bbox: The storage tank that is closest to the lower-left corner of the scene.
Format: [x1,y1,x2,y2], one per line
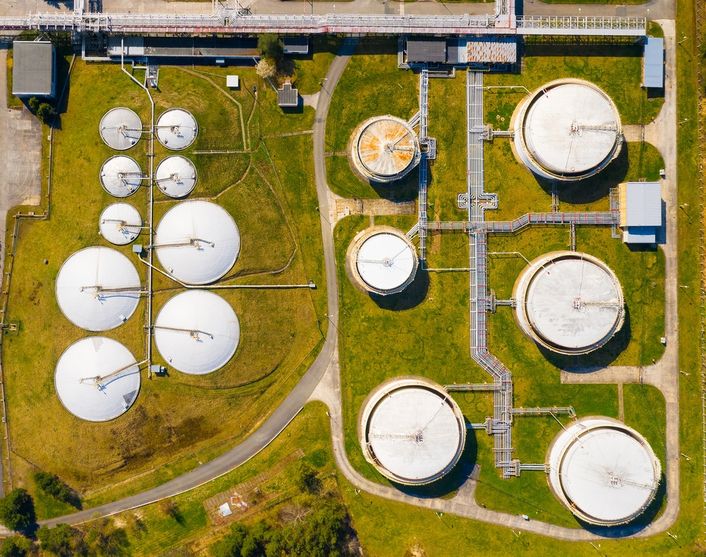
[55,336,141,422]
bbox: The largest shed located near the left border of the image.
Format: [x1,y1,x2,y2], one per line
[12,41,60,100]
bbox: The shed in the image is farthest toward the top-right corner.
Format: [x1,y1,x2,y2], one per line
[641,38,663,90]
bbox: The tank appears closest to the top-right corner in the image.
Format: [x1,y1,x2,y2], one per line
[511,77,627,185]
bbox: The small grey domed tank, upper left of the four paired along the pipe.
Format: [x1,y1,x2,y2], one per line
[99,108,143,151]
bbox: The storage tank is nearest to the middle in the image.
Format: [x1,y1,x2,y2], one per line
[346,225,422,298]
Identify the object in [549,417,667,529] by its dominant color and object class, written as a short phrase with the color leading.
white storage tank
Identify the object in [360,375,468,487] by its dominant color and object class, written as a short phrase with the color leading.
white storage tank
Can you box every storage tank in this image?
[99,203,143,245]
[347,114,423,190]
[57,247,141,332]
[511,77,627,185]
[154,199,241,285]
[514,252,627,355]
[156,108,199,151]
[99,108,143,151]
[154,290,240,375]
[55,336,141,422]
[346,225,422,298]
[155,155,198,198]
[100,155,143,198]
[549,417,667,529]
[360,375,468,487]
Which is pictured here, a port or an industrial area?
industrial area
